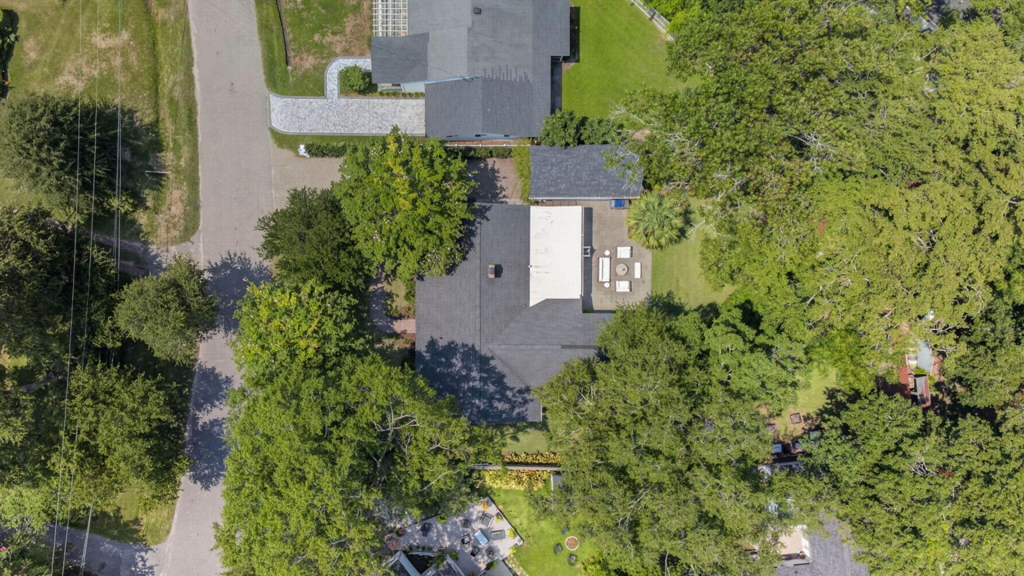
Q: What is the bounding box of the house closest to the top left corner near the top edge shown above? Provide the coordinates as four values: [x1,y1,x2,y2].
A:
[372,0,570,141]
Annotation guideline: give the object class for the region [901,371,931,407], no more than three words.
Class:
shed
